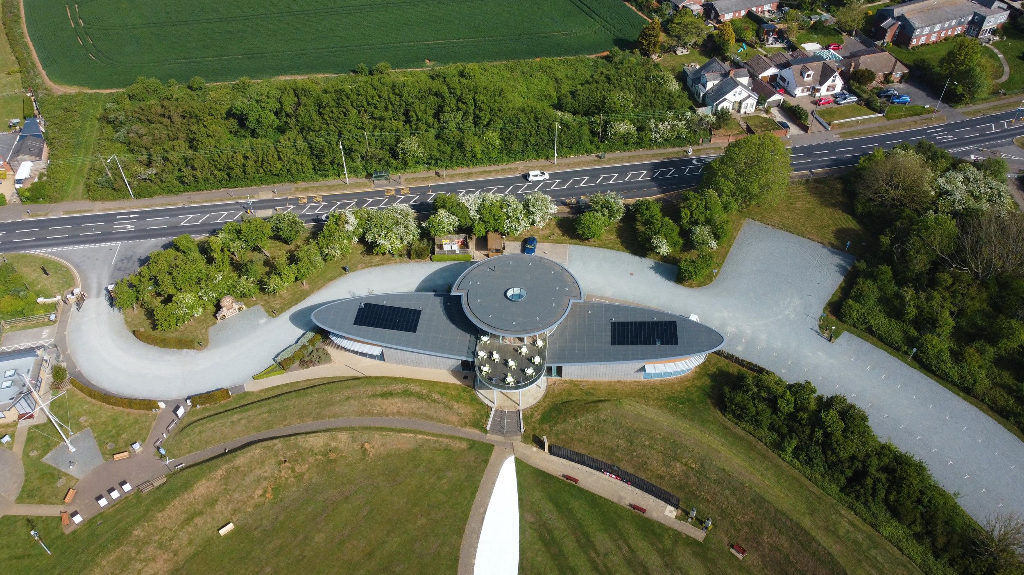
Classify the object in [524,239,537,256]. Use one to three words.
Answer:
vehicle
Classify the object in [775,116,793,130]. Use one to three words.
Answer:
car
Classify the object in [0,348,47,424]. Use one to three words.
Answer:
building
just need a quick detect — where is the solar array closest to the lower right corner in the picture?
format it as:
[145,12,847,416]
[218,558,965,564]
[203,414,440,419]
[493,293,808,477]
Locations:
[611,321,678,346]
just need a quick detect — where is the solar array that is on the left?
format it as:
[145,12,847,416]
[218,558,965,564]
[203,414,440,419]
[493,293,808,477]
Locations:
[354,303,422,334]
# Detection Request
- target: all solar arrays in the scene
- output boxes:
[611,321,678,346]
[354,303,422,334]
